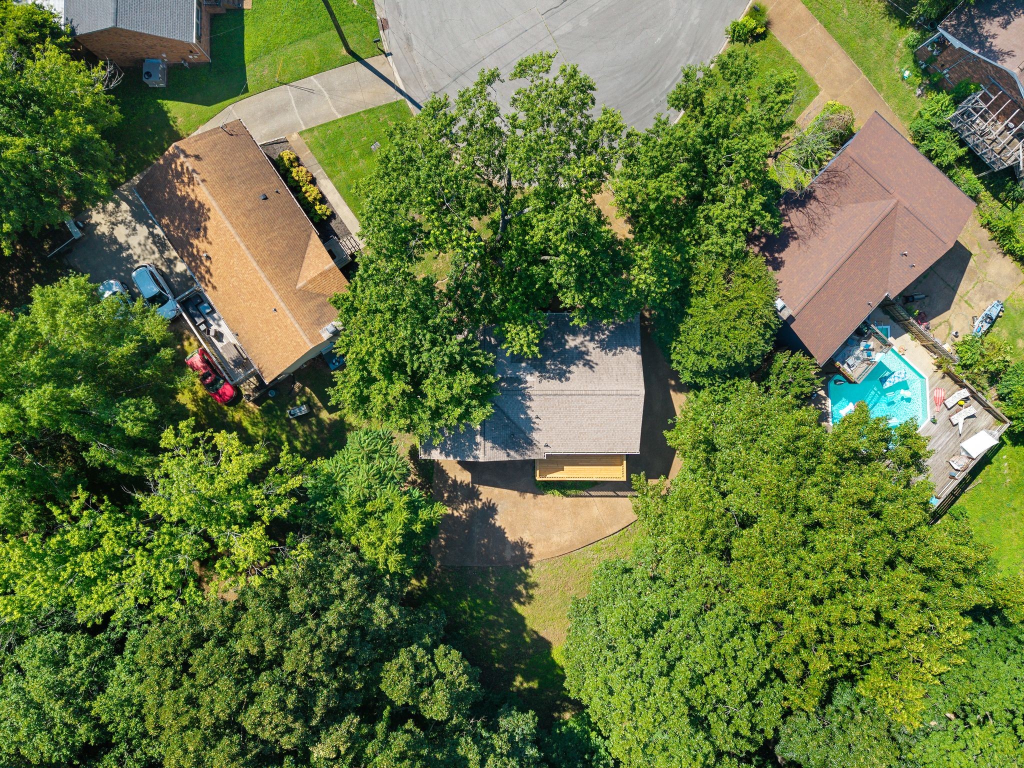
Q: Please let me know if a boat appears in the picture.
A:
Yes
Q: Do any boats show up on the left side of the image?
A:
No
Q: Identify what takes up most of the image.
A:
trees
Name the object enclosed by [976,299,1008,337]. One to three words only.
boat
